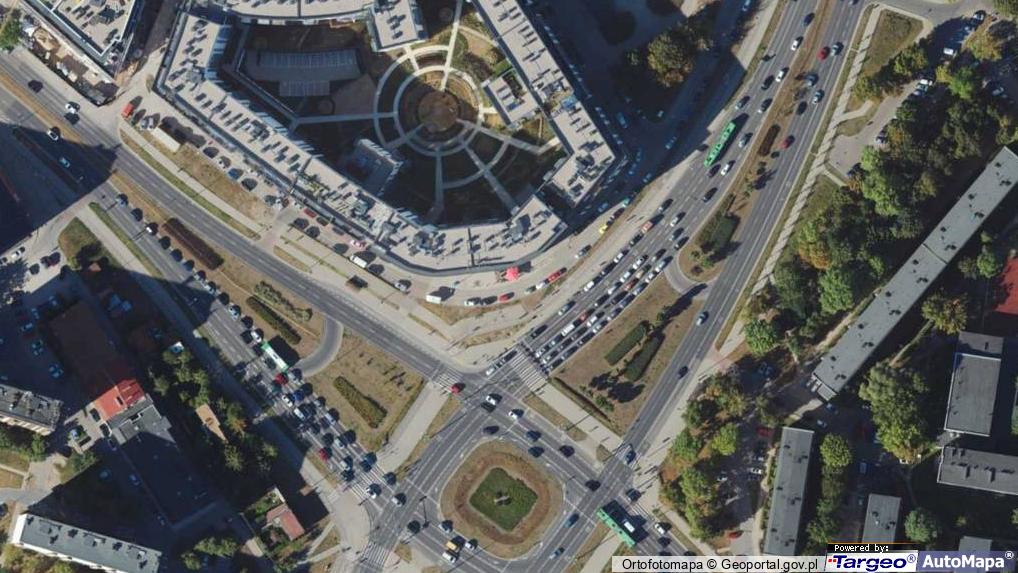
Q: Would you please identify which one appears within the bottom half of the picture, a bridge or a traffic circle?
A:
traffic circle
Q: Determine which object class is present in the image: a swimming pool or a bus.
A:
bus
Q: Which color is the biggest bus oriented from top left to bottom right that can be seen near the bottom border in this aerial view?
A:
green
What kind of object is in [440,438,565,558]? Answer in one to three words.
roundabout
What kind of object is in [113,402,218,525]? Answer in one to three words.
building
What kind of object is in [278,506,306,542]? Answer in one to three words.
house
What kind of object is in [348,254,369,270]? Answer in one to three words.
vehicle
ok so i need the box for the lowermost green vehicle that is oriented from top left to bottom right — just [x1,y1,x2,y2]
[597,506,636,545]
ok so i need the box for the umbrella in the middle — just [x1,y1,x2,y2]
[505,266,520,281]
